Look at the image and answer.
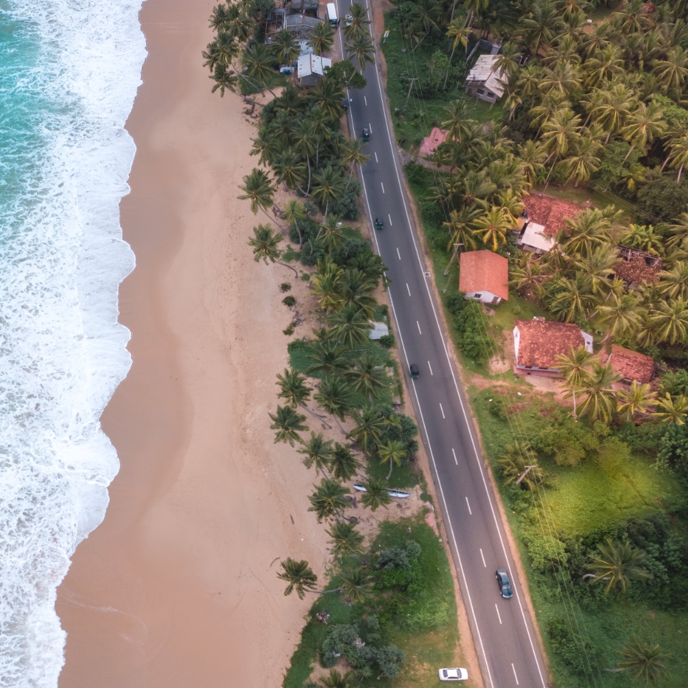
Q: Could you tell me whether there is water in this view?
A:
Yes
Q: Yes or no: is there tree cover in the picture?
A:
Yes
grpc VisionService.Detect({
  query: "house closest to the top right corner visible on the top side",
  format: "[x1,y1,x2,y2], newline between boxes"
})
[463,55,513,105]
